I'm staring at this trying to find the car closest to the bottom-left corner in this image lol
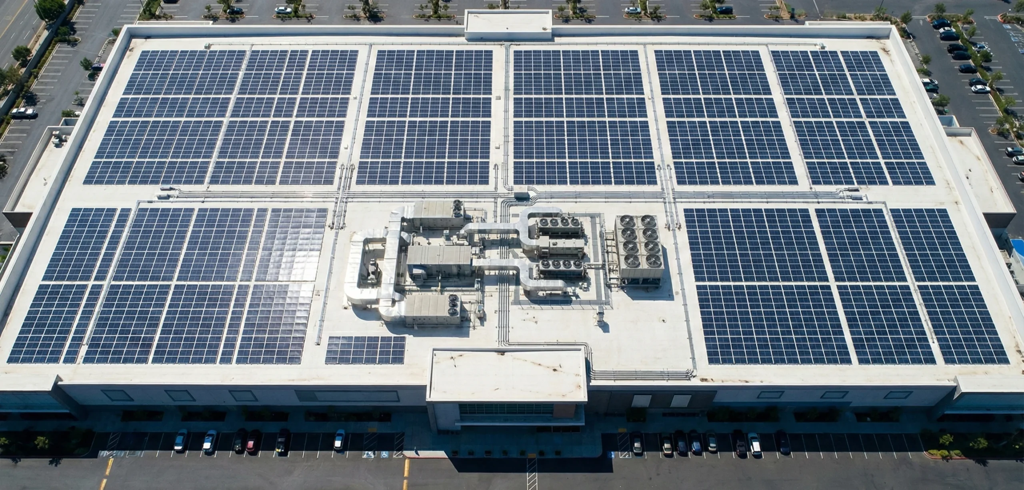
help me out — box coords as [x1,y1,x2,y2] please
[173,429,189,453]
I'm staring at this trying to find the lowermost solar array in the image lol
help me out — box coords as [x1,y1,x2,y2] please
[325,336,406,365]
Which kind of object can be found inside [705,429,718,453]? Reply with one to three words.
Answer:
vehicle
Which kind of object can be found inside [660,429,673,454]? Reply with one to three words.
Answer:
vehicle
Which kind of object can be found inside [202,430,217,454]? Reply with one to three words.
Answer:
car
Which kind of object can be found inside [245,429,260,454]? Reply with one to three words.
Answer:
car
